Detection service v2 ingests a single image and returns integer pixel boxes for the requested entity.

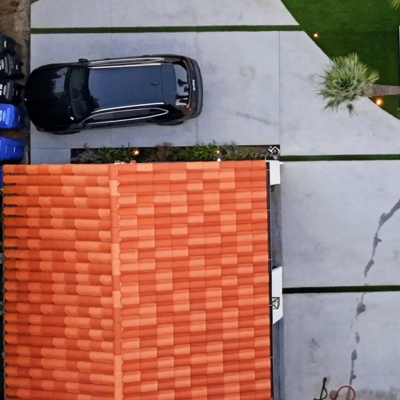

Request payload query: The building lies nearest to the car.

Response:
[0,156,283,400]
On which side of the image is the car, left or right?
left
